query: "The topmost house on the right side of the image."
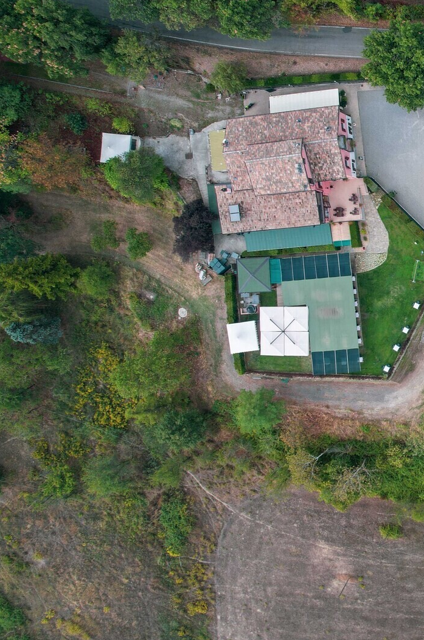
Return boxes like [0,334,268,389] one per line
[208,88,356,251]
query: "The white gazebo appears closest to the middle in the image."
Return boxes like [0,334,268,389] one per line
[227,320,260,353]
